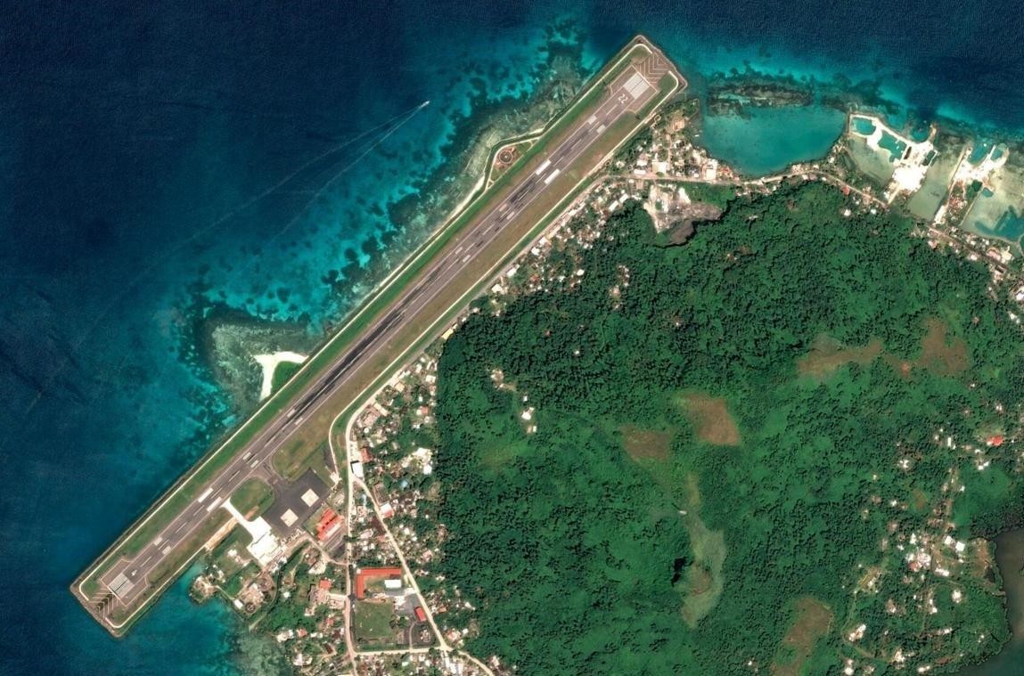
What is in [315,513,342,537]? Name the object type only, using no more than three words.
building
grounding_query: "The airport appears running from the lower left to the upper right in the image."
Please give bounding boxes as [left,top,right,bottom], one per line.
[68,35,688,636]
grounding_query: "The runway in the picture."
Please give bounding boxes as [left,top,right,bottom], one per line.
[101,65,657,606]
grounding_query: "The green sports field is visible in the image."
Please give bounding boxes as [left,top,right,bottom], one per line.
[356,602,393,640]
